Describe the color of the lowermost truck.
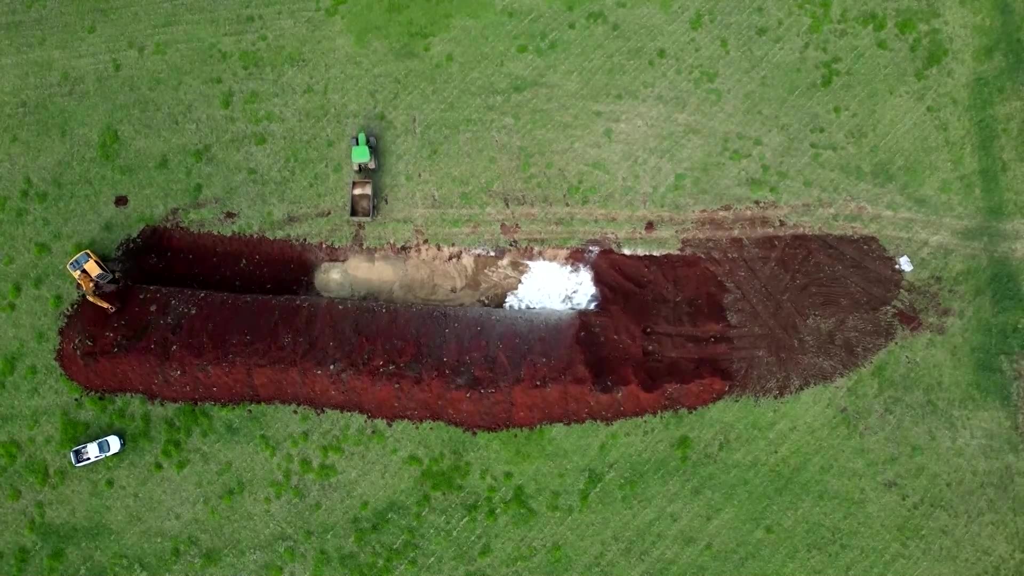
white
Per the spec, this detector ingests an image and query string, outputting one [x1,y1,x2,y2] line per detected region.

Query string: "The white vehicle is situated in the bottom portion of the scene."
[70,434,127,467]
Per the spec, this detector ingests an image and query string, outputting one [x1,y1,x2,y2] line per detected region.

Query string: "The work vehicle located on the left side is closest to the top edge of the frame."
[348,133,377,180]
